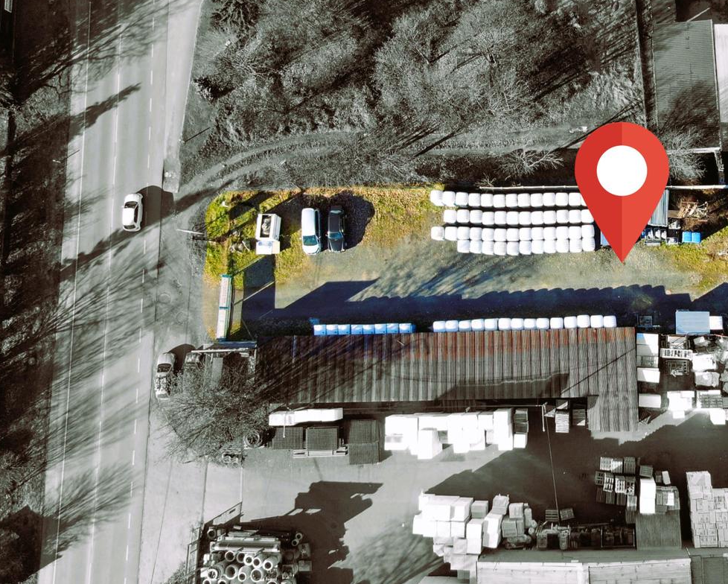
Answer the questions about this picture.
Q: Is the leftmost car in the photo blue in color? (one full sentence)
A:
No, the leftmost car is white.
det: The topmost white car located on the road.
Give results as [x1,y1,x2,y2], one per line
[123,193,149,233]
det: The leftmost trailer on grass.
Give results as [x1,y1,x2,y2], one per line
[252,216,280,247]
